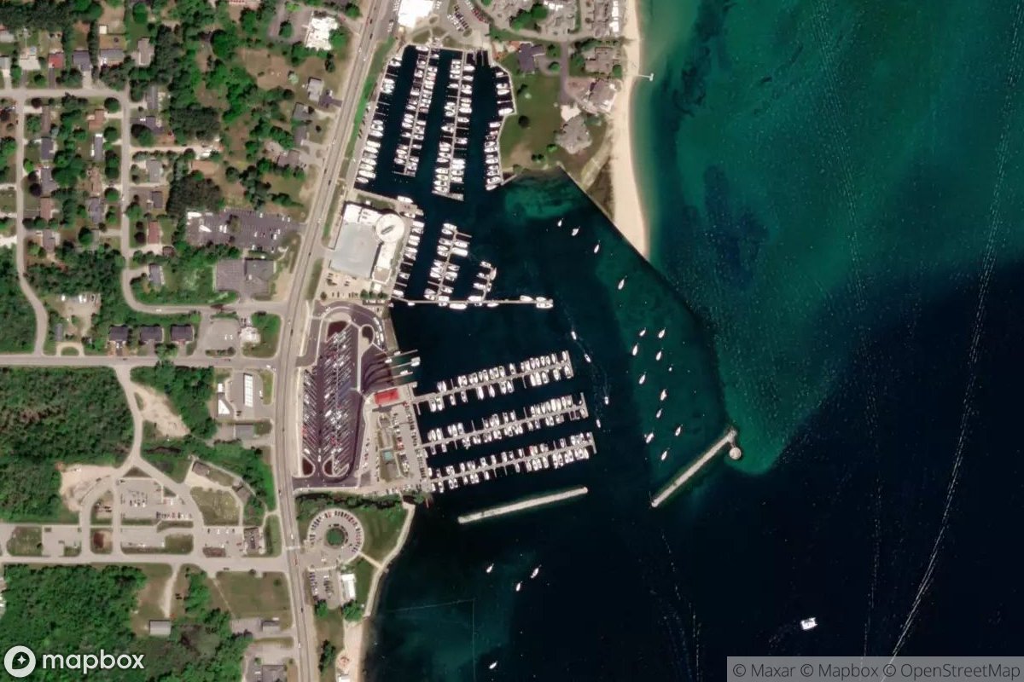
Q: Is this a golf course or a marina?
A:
marina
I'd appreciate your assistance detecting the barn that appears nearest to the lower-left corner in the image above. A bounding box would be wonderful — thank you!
[148,621,170,637]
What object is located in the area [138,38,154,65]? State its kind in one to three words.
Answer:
house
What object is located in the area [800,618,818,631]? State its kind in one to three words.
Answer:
boat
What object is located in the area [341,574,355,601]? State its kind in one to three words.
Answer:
building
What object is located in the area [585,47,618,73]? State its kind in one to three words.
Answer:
house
